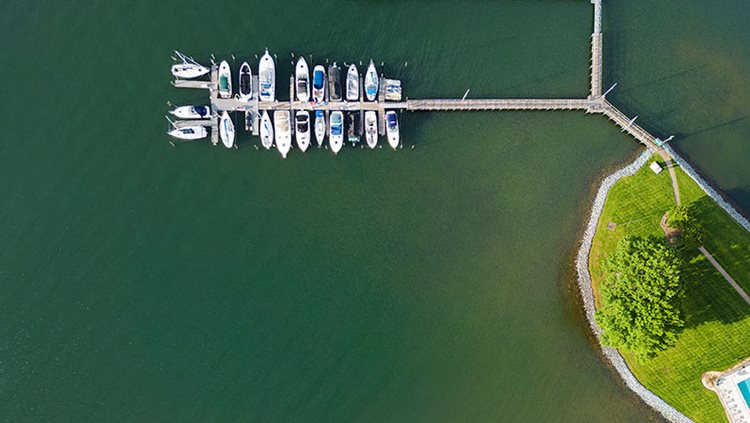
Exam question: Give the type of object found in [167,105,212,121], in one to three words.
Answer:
boat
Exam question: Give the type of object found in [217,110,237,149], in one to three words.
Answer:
boat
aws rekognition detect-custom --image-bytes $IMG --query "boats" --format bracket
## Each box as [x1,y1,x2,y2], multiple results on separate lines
[295,108,312,152]
[313,65,326,103]
[294,56,311,105]
[347,109,360,146]
[258,109,275,149]
[364,59,379,102]
[274,109,293,160]
[160,116,209,141]
[385,110,401,151]
[382,78,403,100]
[329,109,345,155]
[167,105,212,121]
[330,64,341,102]
[217,110,237,149]
[364,111,379,149]
[346,64,360,102]
[170,46,209,80]
[313,110,326,148]
[218,59,234,101]
[259,48,277,105]
[238,61,253,99]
